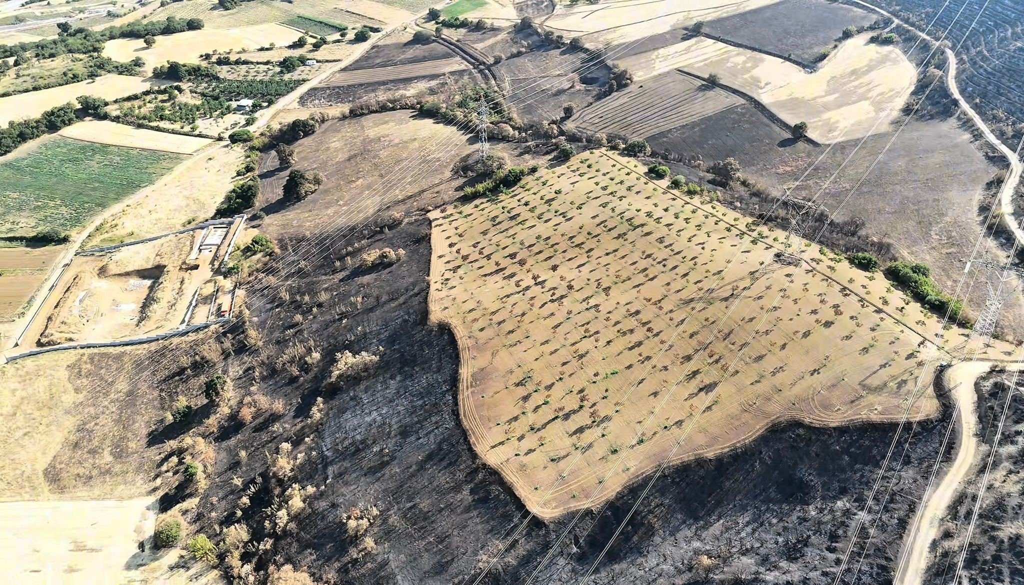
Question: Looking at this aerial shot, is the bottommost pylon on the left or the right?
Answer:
right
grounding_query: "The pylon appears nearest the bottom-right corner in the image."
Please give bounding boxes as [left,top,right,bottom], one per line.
[957,254,1024,360]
